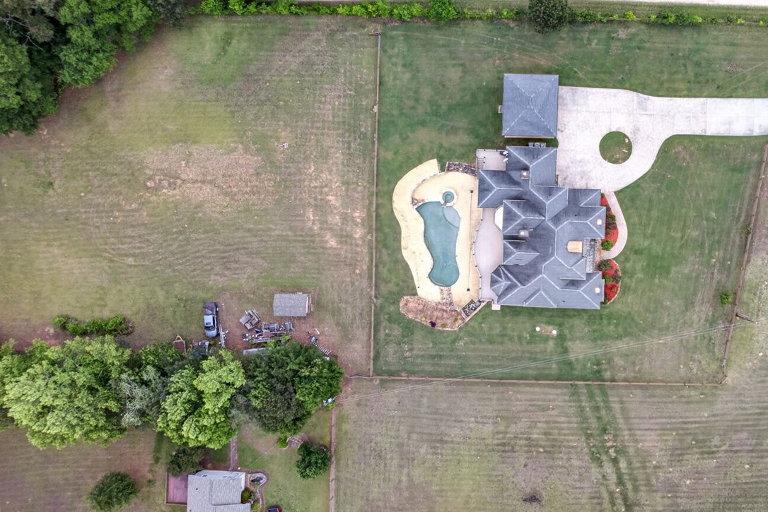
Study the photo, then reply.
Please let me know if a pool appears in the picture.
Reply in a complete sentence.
Yes, you can see a pool in this photo.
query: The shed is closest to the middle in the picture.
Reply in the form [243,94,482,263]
[273,293,314,317]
